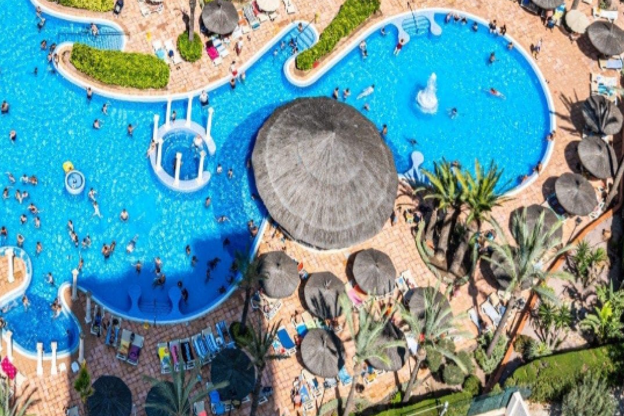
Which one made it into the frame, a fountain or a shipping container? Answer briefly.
fountain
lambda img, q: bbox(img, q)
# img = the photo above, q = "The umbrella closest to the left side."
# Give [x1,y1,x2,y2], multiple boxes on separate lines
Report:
[87,378,131,416]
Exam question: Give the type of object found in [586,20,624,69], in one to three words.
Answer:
umbrella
